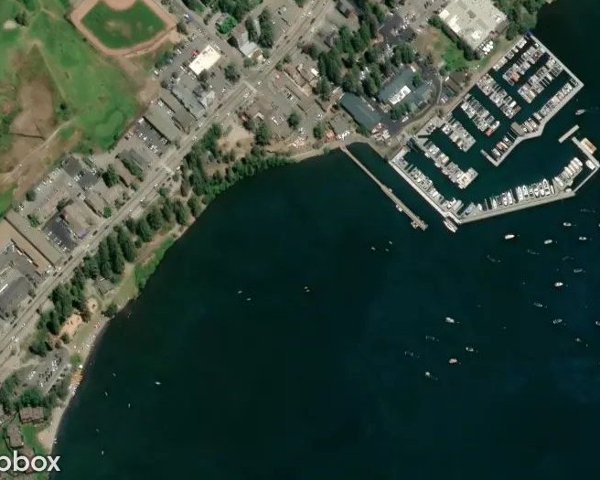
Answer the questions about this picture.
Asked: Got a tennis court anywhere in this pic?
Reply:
No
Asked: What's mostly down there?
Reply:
water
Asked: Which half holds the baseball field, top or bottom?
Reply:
top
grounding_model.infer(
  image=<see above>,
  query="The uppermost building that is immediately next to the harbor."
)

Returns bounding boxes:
[439,0,510,52]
